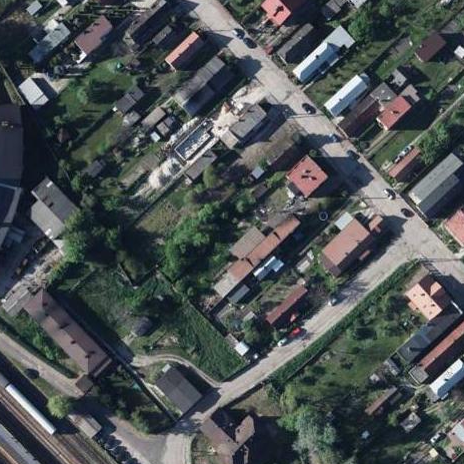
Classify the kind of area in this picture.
residential area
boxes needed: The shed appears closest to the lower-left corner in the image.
[68,408,100,440]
